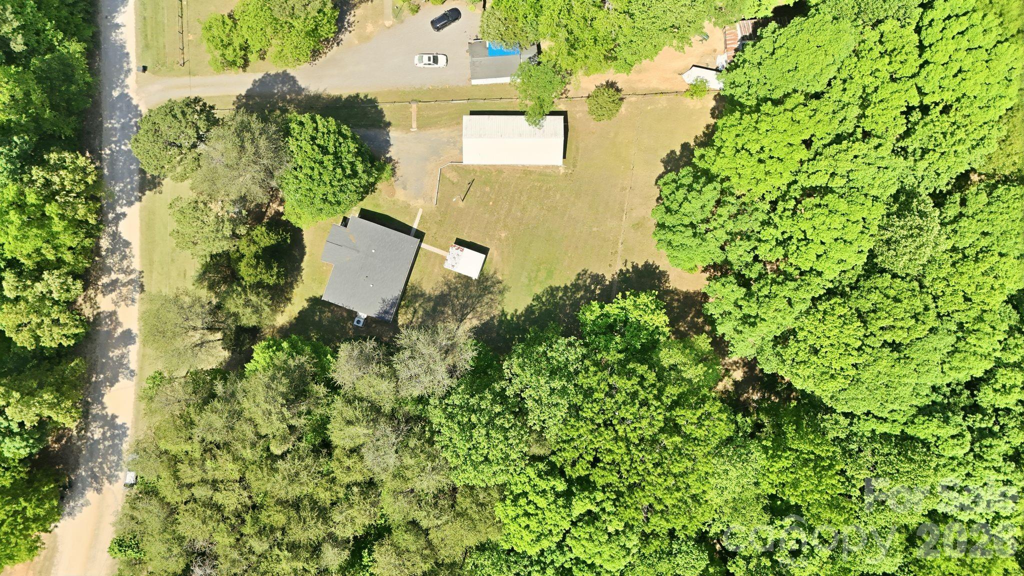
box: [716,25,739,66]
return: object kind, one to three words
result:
shed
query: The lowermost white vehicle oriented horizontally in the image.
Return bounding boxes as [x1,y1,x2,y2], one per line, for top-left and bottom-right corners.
[415,53,448,68]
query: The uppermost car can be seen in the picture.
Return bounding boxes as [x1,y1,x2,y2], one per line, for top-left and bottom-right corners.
[430,9,461,32]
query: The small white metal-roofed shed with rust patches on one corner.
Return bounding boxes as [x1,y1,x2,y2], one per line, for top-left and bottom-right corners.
[445,244,485,279]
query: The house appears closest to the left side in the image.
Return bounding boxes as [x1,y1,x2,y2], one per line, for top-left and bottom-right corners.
[320,215,420,323]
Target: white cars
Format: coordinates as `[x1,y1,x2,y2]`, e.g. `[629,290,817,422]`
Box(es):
[122,458,140,489]
[415,53,448,68]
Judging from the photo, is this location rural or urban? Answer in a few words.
rural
